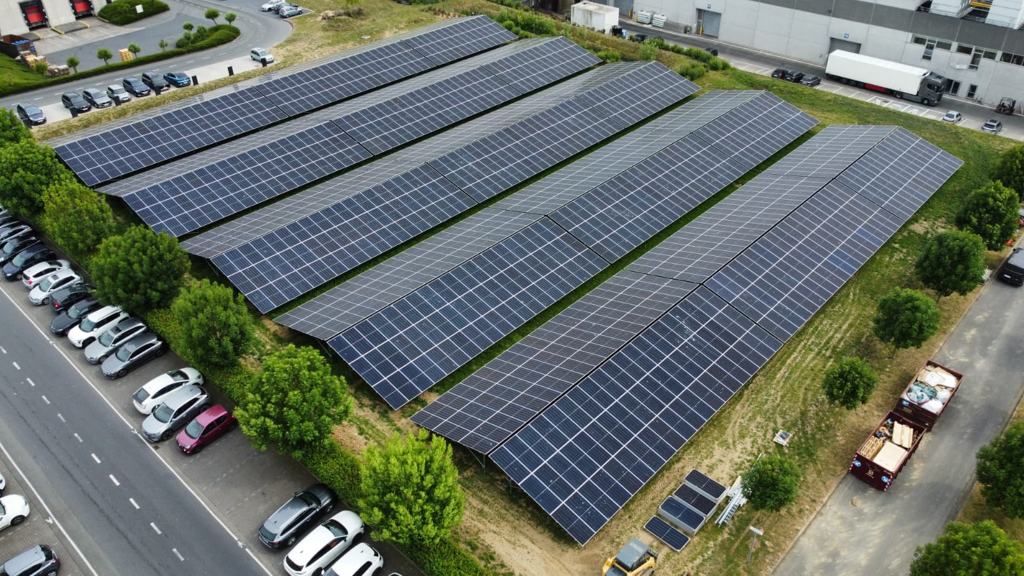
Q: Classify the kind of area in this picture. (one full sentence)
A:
What you see here is a solar farm.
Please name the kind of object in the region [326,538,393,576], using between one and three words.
car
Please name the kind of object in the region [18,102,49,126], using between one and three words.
car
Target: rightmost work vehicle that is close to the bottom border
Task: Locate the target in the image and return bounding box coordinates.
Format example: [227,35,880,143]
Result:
[601,538,662,576]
